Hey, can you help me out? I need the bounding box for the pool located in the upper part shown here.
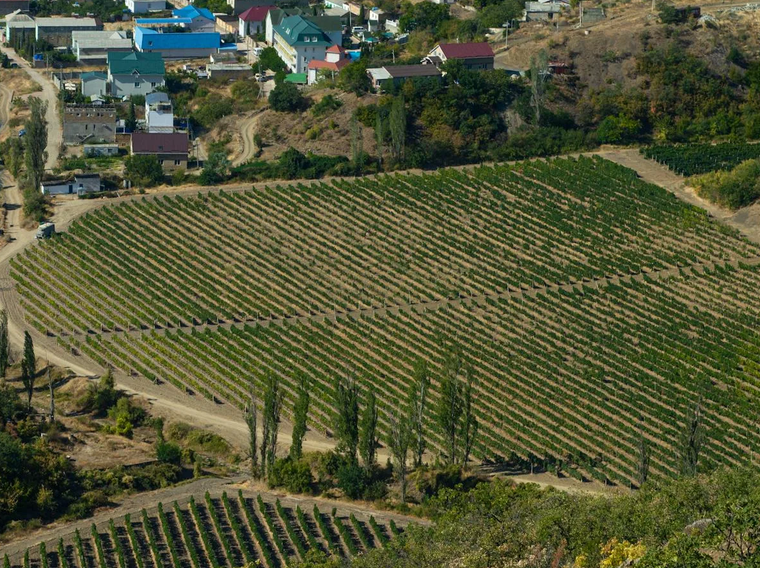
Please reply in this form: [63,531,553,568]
[342,54,357,67]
